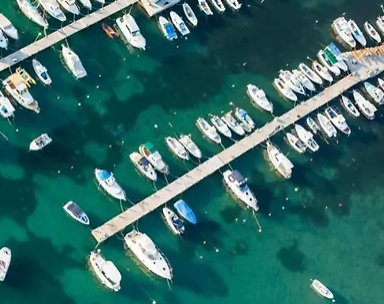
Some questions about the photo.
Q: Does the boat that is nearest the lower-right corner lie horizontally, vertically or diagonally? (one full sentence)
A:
In this picture, the boat that is nearest the lower-right corner lies diagonally.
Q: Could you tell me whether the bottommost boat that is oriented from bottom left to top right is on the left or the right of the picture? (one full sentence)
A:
It is on the left.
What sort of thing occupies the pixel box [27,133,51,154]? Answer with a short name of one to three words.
boat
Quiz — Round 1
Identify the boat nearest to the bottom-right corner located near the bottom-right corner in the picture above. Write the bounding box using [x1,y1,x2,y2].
[307,279,334,299]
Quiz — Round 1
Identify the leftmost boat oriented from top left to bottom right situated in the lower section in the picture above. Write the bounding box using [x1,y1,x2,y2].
[64,201,90,224]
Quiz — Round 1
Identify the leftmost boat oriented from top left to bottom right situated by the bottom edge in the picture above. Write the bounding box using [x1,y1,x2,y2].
[85,240,120,304]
